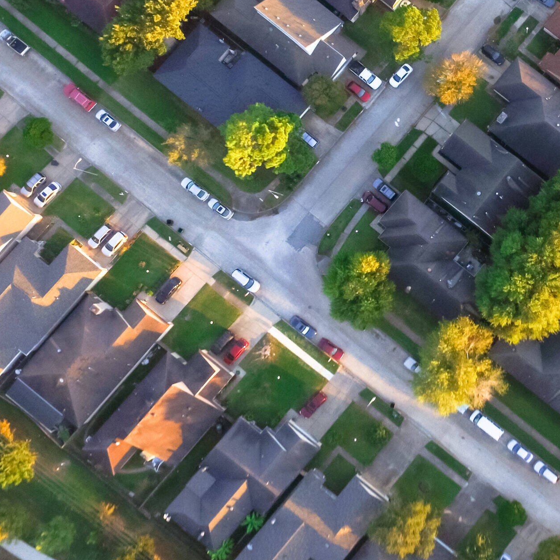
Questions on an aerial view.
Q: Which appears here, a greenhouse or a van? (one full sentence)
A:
There is a van in the scene.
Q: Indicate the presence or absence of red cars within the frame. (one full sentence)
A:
Yes, there is a red car in the image.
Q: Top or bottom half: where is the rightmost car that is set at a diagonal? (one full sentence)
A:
You can find the rightmost car that is set at a diagonal in the bottom half.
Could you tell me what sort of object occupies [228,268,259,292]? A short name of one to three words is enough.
car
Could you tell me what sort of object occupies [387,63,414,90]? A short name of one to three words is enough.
car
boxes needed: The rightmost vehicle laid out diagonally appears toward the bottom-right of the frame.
[532,459,560,487]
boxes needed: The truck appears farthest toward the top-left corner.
[0,28,33,57]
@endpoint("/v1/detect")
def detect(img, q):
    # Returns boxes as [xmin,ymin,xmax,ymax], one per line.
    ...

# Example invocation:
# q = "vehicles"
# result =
[153,277,182,305]
[345,78,373,104]
[479,42,508,68]
[205,197,235,222]
[348,59,382,91]
[387,63,414,90]
[33,181,62,208]
[206,327,234,355]
[316,336,347,360]
[19,173,49,200]
[94,107,124,133]
[289,314,320,339]
[303,126,325,153]
[228,268,259,292]
[100,230,129,258]
[500,549,515,560]
[360,189,389,215]
[532,459,560,487]
[222,337,250,365]
[181,177,210,202]
[299,392,328,418]
[0,28,33,57]
[506,439,535,465]
[85,222,116,250]
[472,412,505,444]
[370,176,399,202]
[66,84,96,110]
